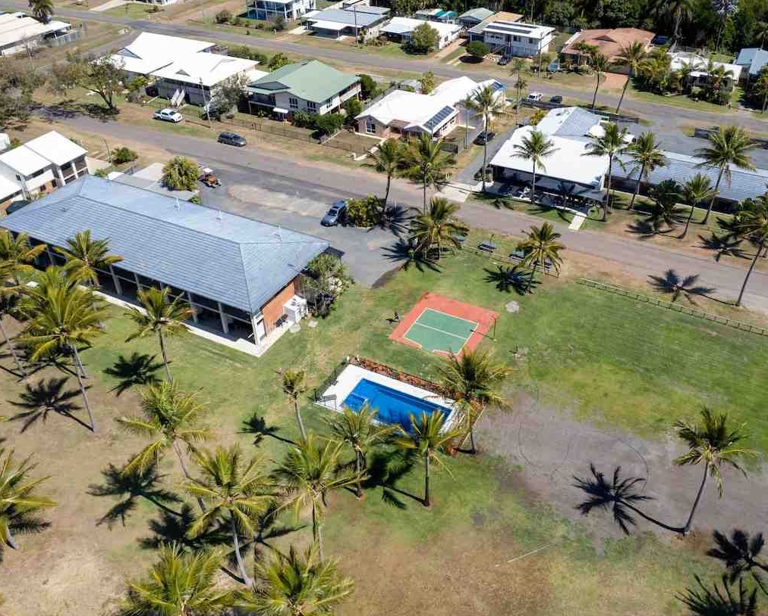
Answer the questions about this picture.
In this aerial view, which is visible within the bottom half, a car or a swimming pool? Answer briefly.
swimming pool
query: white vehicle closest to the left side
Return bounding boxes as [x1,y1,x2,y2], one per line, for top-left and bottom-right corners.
[153,107,182,122]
